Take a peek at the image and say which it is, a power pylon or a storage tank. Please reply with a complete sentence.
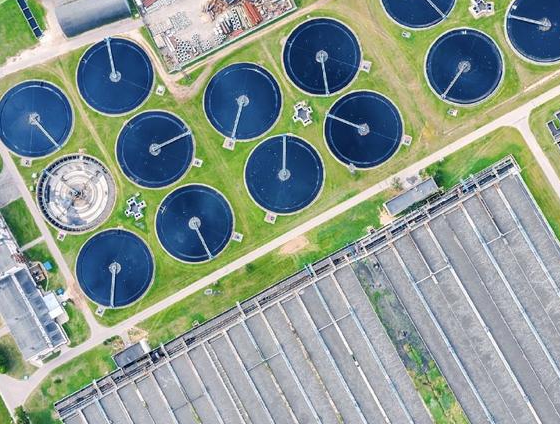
This aerial view contains a storage tank.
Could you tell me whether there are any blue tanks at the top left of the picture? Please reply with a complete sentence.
Yes, looking at the top left of the picture, one can make out a blue tank.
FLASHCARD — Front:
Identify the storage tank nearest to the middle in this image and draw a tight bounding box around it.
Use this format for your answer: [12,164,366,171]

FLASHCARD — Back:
[243,133,325,215]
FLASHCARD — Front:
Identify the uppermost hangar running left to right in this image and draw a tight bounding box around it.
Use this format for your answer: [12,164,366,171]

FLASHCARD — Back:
[52,0,132,39]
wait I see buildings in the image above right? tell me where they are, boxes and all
[384,178,439,215]
[52,0,132,39]
[0,210,72,368]
[113,342,149,367]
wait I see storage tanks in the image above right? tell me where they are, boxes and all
[424,26,505,107]
[113,108,195,190]
[202,61,282,141]
[323,89,405,170]
[74,35,155,116]
[281,16,363,97]
[73,228,155,310]
[34,153,116,234]
[243,133,325,215]
[153,183,236,264]
[505,0,560,64]
[0,78,74,158]
[380,0,456,30]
